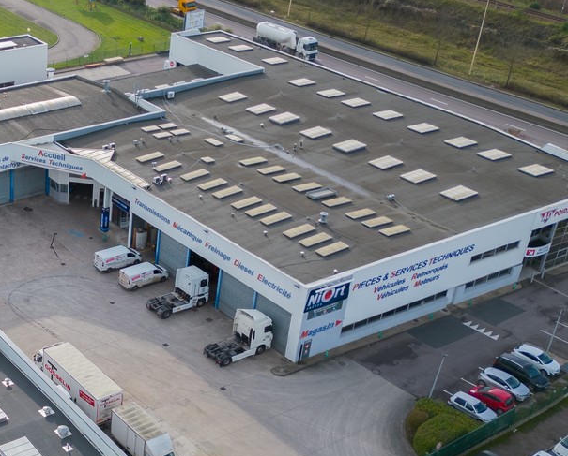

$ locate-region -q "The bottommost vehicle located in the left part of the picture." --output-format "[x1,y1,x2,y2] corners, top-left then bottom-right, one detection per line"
[110,402,173,456]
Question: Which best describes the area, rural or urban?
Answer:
urban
